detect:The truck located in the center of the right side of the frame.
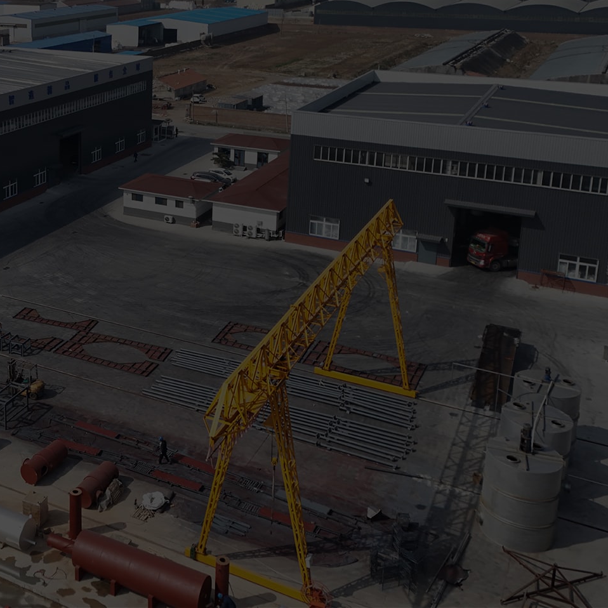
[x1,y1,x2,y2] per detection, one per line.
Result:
[462,231,519,277]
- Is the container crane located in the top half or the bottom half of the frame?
bottom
